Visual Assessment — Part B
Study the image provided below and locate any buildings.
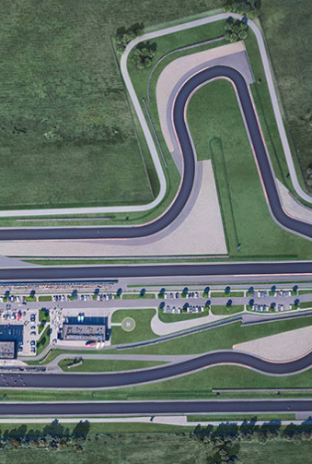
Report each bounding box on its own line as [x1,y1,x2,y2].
[57,326,106,341]
[0,342,17,359]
